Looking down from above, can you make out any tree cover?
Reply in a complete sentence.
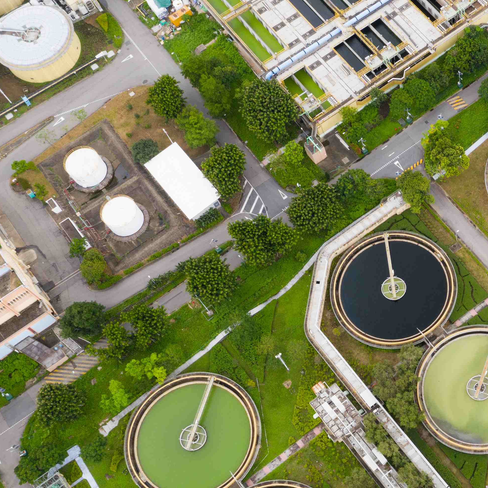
Yes, tree cover shows up in the scene.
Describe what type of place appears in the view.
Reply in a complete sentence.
The picture captures an industrial area.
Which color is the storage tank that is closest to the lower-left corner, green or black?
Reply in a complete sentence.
The storage tank that is closest to the lower-left corner is green.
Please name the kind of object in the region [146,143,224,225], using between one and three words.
building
